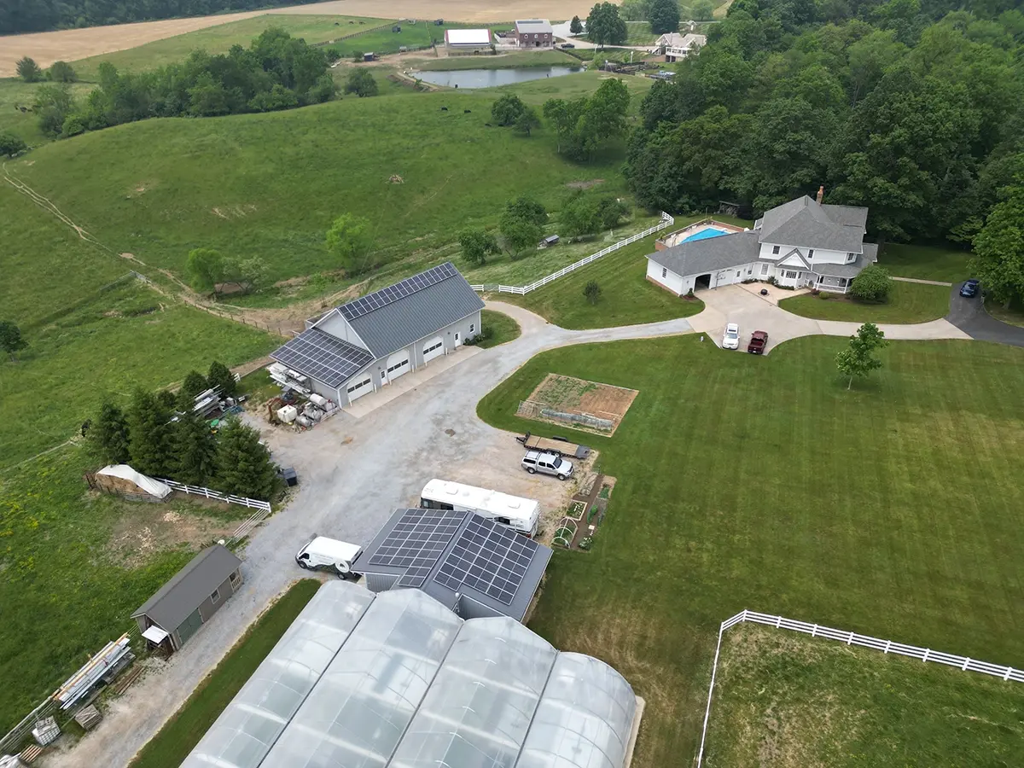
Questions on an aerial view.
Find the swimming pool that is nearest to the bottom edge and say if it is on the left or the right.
right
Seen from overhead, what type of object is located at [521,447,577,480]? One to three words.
truck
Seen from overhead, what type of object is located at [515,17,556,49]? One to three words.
barn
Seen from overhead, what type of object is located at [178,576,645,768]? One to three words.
greenhouse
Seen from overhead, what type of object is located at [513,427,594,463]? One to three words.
trailer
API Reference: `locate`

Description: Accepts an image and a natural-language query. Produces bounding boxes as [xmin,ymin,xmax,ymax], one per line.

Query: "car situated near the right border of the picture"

[957,280,976,297]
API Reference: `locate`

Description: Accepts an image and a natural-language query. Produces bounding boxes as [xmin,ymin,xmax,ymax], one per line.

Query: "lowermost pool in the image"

[657,215,750,251]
